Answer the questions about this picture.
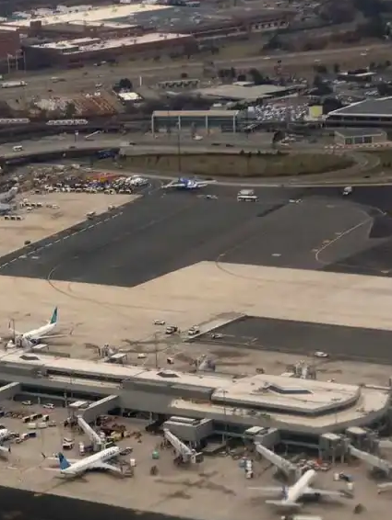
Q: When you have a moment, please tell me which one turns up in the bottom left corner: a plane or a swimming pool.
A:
plane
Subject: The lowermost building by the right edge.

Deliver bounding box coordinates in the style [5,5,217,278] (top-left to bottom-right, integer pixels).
[335,127,390,151]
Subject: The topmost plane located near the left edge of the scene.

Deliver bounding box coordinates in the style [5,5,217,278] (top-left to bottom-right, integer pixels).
[6,310,69,348]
